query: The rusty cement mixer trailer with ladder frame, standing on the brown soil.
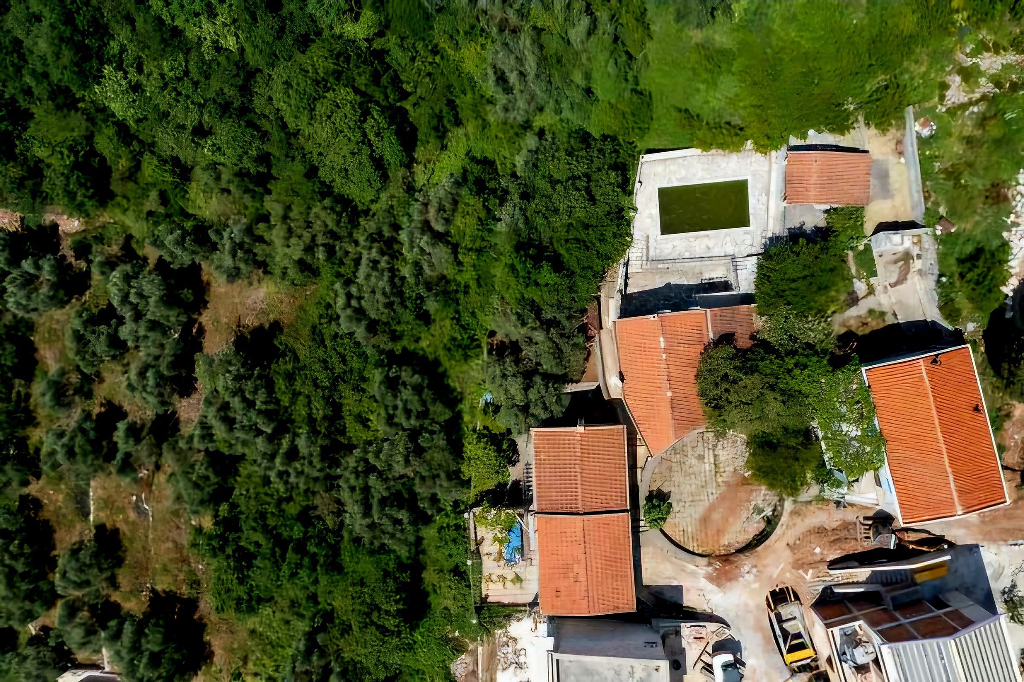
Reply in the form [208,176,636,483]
[861,515,889,549]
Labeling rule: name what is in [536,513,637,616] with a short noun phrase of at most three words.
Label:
house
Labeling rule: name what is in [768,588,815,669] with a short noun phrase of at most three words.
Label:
truck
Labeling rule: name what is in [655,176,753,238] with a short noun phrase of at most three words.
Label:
swimming pool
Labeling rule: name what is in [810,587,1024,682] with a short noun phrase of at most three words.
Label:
building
